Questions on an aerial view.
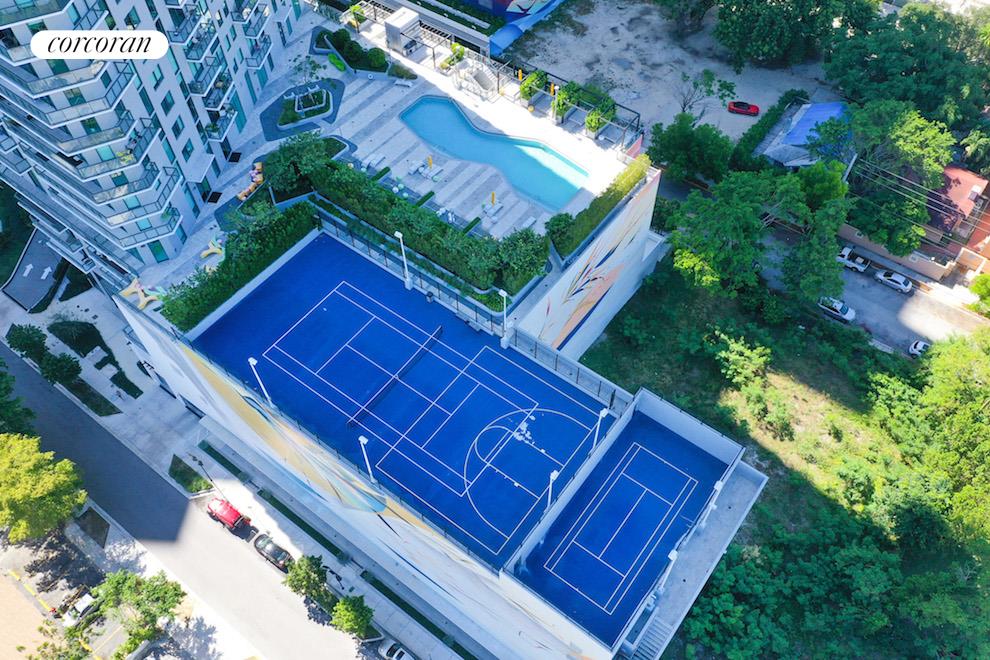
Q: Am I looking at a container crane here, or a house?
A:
house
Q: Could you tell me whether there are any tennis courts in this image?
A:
Yes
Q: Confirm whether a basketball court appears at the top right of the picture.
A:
No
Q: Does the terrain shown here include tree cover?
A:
Yes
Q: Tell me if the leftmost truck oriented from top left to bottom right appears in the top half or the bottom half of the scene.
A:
bottom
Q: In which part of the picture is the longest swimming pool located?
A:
top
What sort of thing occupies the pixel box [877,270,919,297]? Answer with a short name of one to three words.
car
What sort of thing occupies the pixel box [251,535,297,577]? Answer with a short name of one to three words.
car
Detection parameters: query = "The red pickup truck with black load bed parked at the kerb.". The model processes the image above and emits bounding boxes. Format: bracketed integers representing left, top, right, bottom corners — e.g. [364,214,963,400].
[204,498,257,545]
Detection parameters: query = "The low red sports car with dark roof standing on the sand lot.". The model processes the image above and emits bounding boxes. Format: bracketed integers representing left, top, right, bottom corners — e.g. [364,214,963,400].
[725,103,759,120]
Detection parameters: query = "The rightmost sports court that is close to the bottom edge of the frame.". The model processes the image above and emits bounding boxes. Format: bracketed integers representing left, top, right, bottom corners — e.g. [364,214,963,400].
[510,410,729,650]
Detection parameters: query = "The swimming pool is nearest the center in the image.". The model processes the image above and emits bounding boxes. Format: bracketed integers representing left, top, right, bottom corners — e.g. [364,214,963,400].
[396,93,597,215]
